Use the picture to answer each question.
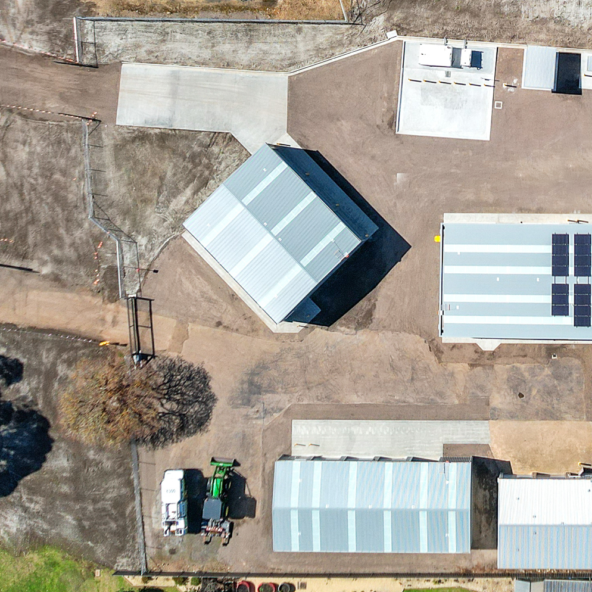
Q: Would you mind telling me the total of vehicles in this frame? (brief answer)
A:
2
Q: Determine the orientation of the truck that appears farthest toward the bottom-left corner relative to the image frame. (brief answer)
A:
vertically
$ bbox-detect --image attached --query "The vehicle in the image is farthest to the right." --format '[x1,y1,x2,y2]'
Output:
[200,457,232,543]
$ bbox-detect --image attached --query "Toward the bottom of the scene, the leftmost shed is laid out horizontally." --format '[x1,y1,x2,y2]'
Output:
[270,455,474,555]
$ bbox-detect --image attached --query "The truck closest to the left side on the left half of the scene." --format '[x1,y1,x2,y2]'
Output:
[160,472,192,540]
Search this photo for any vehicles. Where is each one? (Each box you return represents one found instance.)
[200,457,232,543]
[160,472,192,540]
